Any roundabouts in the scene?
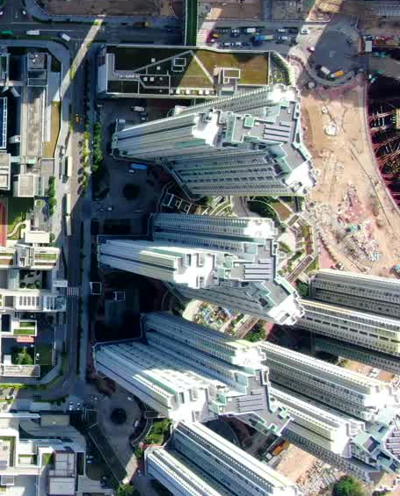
Yes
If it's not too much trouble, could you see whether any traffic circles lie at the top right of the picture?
Yes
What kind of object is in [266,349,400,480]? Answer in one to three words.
building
